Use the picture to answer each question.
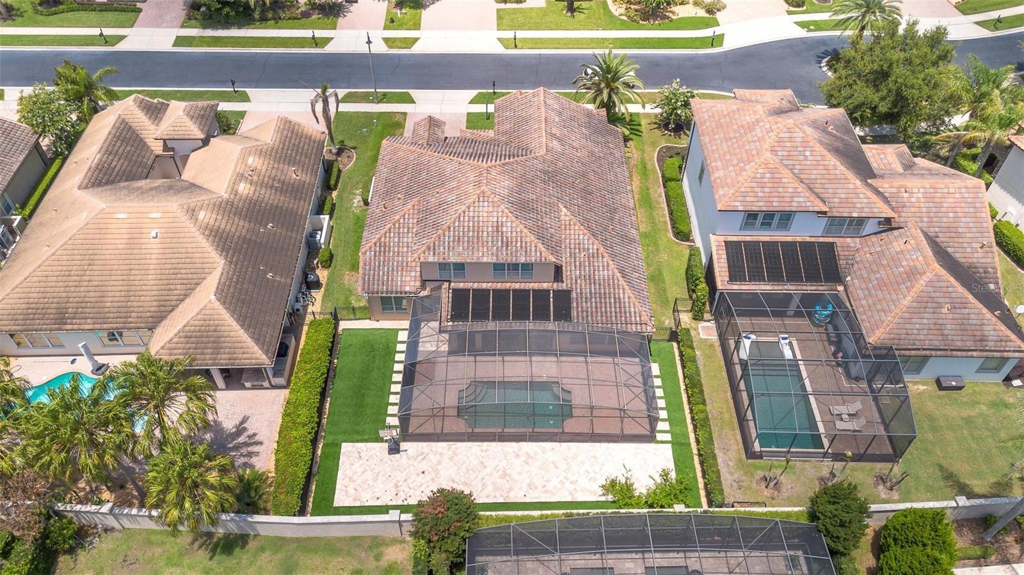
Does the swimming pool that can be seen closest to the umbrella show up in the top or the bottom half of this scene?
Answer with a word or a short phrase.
bottom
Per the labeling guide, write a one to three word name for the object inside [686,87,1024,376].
house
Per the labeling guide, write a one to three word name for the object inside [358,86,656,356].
house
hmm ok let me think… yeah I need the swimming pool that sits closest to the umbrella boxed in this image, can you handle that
[8,367,155,439]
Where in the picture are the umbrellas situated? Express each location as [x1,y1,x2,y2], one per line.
[82,347,113,377]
